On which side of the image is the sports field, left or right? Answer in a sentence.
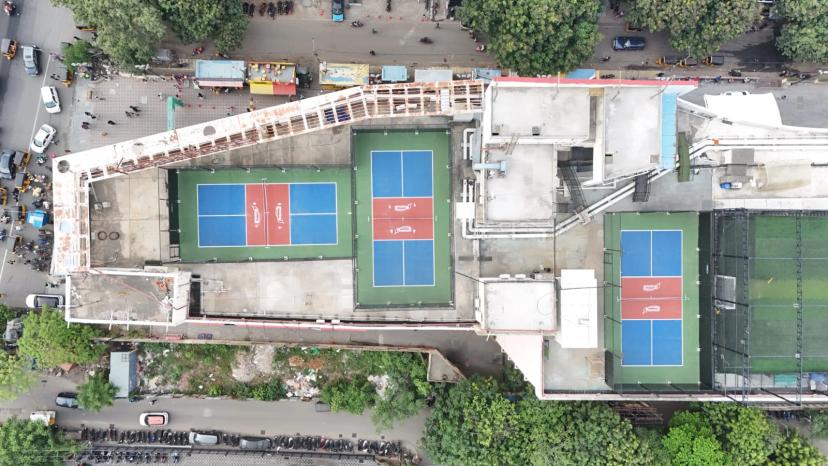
It is on the right.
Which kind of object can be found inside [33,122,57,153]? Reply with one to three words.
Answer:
car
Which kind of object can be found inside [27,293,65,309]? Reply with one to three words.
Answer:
car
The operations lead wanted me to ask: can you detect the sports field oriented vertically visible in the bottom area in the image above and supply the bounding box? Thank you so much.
[748,214,828,388]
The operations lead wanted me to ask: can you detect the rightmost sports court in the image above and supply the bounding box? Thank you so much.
[603,212,701,390]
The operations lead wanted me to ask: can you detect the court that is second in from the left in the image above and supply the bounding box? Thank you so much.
[353,130,452,307]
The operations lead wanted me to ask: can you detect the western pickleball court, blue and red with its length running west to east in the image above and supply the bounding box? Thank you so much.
[179,167,350,262]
